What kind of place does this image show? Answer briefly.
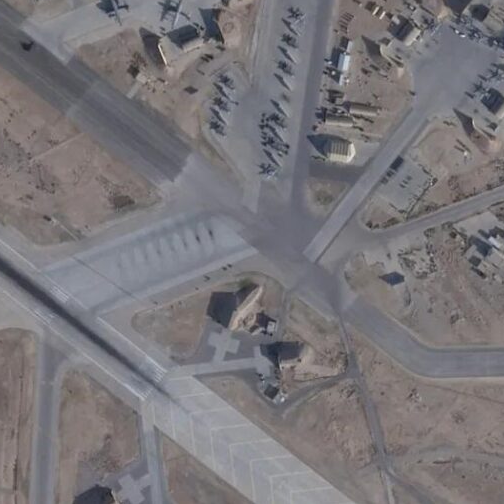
airport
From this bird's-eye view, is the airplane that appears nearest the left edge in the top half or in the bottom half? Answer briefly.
top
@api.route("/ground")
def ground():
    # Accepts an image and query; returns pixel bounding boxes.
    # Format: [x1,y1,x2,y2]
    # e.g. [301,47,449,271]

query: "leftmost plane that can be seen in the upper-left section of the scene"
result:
[106,0,130,26]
